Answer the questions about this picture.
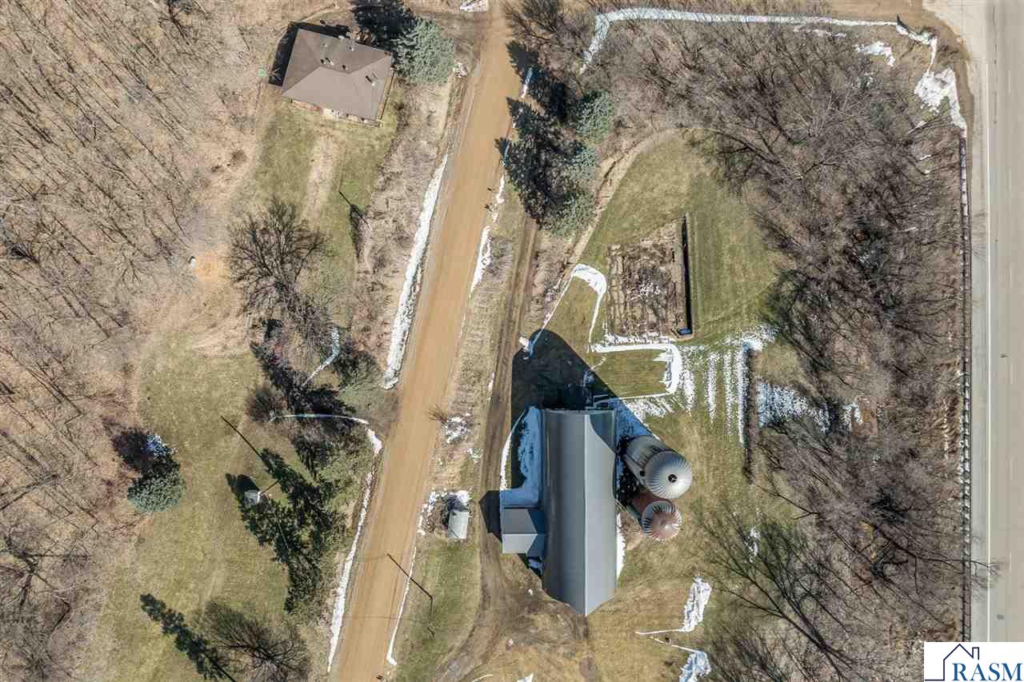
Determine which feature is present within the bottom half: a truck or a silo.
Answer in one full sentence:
It is a silo that can be seen within the bottom half.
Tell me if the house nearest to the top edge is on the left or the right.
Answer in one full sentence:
The house nearest to the top edge sits on the left side.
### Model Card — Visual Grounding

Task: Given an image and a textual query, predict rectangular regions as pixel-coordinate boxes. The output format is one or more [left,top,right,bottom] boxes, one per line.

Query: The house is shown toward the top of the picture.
[282,29,399,128]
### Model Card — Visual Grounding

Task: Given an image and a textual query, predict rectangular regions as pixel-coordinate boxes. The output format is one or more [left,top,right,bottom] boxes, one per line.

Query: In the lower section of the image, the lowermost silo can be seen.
[624,483,682,543]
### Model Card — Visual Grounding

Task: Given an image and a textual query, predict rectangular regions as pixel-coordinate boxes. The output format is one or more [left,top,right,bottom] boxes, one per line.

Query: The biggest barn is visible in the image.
[542,410,616,618]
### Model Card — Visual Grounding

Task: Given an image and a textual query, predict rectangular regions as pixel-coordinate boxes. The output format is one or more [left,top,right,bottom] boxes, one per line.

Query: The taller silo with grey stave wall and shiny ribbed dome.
[621,435,694,501]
